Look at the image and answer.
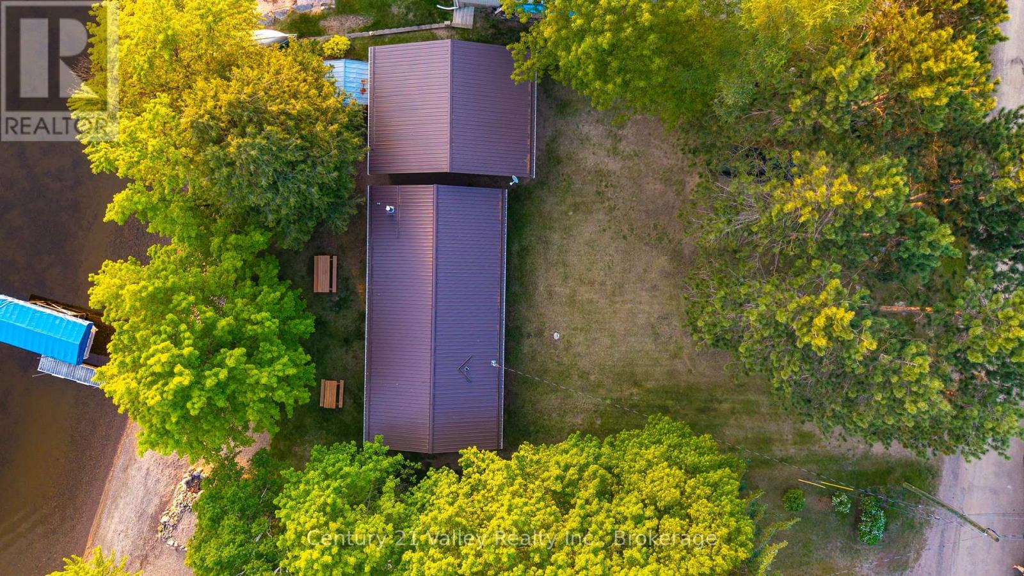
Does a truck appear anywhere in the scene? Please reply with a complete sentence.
No, the picture doesn't show any truck.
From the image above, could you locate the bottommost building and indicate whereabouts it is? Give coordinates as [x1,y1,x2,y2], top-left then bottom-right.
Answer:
[361,184,509,452]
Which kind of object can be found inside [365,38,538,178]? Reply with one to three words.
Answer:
building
